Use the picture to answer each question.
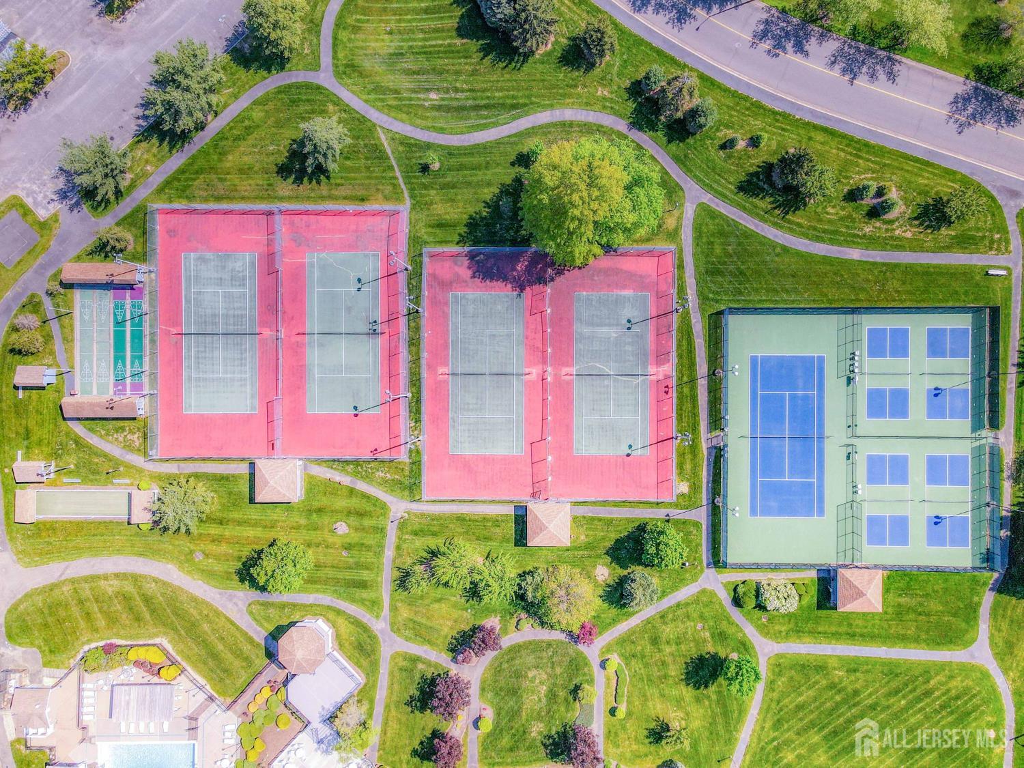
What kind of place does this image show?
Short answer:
sports ground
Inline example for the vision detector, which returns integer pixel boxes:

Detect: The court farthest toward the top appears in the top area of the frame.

[0,209,40,269]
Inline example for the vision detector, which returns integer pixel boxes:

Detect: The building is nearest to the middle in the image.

[527,502,570,547]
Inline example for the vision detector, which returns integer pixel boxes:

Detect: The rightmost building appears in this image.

[830,569,883,612]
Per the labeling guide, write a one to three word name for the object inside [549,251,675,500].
tennis court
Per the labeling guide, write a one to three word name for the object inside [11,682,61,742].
building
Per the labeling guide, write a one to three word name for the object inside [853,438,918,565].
sports court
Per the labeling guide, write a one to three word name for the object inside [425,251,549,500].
tennis court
